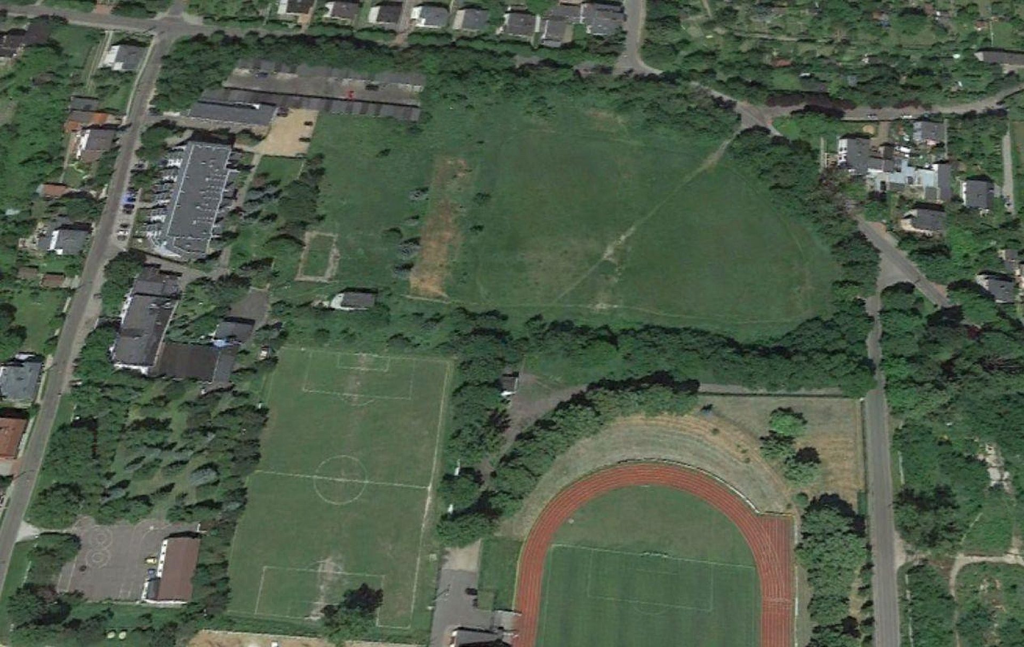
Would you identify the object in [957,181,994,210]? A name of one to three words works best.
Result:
house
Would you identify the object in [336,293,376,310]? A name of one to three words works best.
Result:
shed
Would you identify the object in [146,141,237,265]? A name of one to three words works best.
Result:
building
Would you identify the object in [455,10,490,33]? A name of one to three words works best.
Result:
house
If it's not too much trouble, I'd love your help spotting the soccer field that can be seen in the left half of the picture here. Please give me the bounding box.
[216,344,455,633]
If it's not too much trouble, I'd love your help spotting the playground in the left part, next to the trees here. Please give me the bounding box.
[55,515,202,600]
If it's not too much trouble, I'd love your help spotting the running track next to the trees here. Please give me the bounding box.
[508,461,797,647]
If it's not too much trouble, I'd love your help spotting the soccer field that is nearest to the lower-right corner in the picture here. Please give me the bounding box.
[539,488,763,647]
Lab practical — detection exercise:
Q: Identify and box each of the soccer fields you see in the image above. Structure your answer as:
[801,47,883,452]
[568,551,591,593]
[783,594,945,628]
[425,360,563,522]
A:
[216,344,455,633]
[539,488,763,647]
